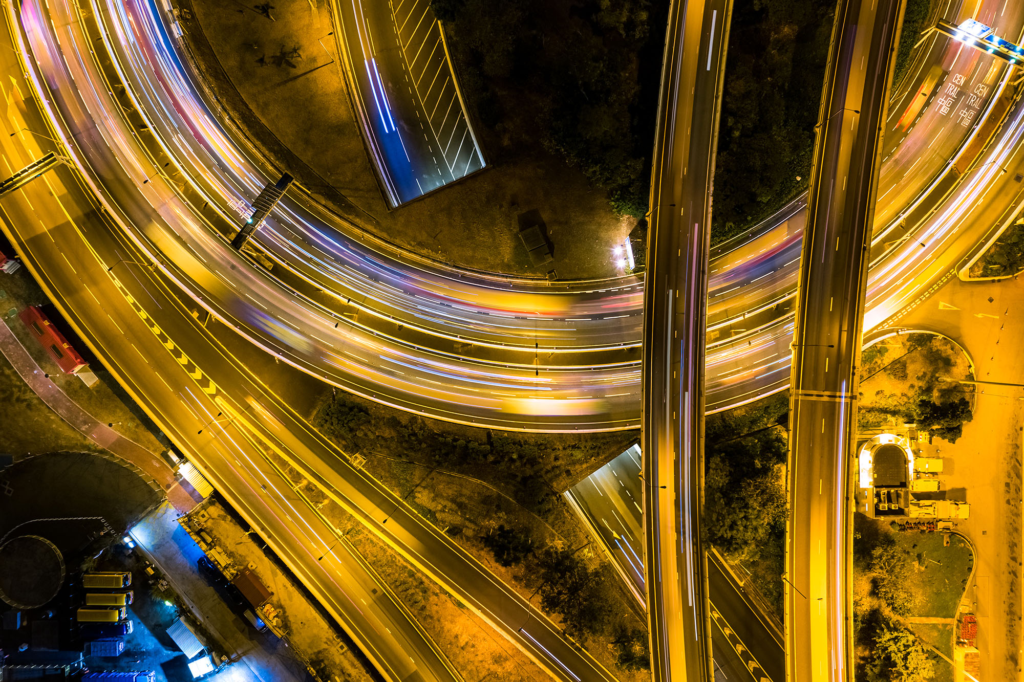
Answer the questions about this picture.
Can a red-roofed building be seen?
Yes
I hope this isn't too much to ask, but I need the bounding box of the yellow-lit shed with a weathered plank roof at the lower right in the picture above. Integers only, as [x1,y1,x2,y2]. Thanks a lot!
[953,646,989,682]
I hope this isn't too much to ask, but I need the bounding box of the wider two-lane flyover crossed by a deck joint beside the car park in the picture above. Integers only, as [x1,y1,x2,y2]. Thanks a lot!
[782,0,911,682]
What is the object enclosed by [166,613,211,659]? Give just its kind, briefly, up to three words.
shed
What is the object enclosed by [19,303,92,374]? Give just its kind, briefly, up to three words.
building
